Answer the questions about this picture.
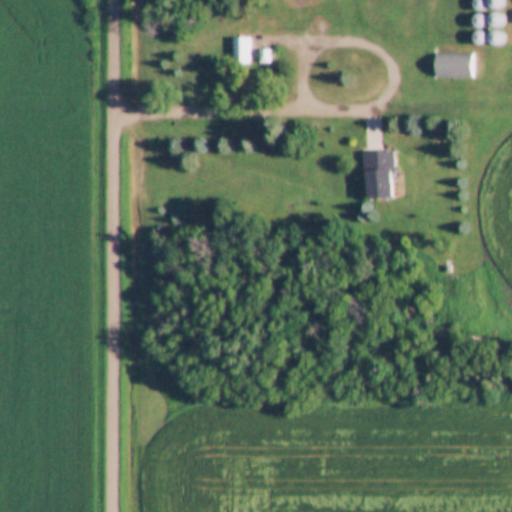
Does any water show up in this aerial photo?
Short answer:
No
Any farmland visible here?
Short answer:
Yes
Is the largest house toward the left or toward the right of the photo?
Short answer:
right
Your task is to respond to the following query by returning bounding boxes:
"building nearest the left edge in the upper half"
[234,36,252,65]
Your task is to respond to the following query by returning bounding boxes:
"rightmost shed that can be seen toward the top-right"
[435,51,476,82]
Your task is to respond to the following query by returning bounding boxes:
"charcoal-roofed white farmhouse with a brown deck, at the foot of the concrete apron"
[364,152,407,199]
